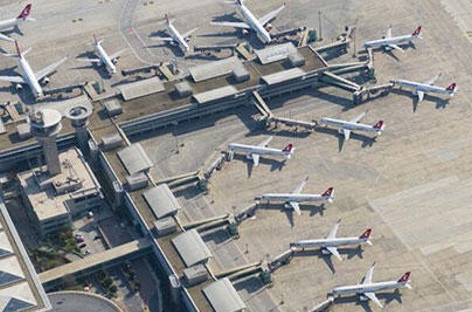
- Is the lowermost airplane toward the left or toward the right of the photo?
right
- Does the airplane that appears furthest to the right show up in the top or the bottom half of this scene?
top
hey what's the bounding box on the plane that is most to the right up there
[395,72,458,102]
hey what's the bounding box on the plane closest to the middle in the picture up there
[228,133,294,167]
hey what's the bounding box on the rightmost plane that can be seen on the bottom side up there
[332,262,411,309]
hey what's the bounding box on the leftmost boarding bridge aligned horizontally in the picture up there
[39,82,96,101]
